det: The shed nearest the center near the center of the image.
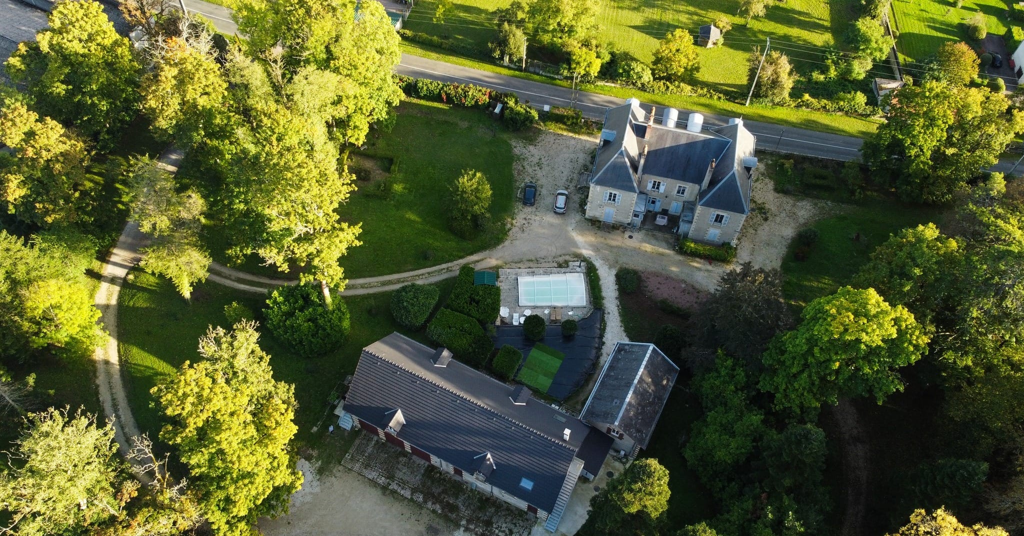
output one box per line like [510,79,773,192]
[474,264,496,286]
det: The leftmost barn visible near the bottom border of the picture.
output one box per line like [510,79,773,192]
[334,331,593,535]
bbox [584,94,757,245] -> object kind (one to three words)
house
